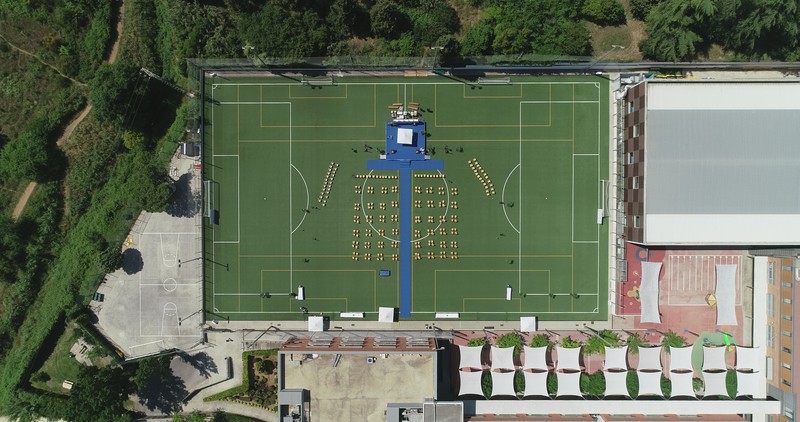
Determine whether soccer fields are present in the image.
Yes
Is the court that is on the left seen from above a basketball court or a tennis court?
basketball court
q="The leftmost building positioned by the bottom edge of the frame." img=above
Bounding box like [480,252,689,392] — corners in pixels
[280,337,438,422]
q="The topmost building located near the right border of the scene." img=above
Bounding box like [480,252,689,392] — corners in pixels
[616,78,800,248]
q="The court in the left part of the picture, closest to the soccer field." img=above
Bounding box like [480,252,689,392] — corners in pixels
[140,233,202,337]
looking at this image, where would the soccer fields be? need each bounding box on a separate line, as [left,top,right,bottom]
[205,77,609,321]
